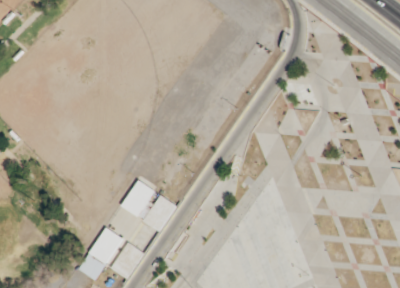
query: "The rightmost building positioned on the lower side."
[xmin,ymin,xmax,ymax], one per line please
[143,196,180,232]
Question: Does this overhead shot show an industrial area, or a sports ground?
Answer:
sports ground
